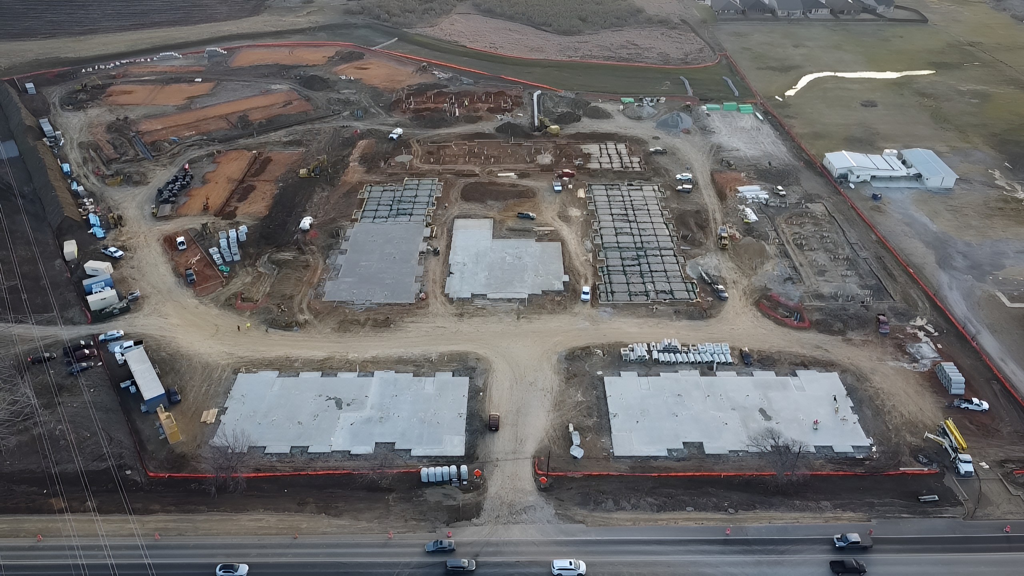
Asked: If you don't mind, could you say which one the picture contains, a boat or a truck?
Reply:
truck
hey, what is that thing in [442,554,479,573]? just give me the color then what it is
gray vehicle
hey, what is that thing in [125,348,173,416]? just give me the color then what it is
white trailer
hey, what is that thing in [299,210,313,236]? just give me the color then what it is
white vehicle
